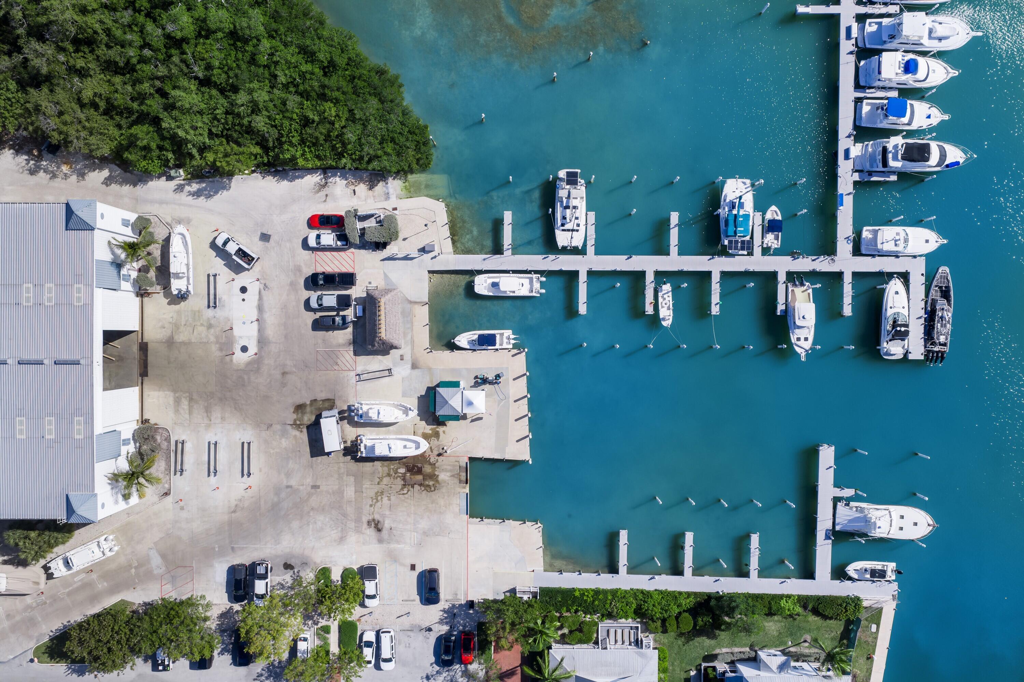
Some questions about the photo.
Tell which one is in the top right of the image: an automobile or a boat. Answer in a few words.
boat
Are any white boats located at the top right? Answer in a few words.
Yes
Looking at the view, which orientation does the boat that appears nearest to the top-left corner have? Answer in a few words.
vertically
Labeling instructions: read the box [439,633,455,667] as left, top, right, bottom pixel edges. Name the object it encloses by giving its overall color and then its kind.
black car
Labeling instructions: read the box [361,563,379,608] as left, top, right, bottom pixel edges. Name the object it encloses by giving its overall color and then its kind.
white vehicle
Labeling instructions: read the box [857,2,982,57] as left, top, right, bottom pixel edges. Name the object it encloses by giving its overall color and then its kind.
white boat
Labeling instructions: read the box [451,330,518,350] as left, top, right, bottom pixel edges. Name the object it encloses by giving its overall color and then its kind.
white boat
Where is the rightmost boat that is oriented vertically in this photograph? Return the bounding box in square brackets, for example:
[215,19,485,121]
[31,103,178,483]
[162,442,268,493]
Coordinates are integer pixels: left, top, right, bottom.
[924,266,953,363]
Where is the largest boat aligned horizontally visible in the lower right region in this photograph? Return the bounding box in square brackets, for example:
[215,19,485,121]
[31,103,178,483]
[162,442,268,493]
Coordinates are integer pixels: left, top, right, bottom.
[832,499,939,543]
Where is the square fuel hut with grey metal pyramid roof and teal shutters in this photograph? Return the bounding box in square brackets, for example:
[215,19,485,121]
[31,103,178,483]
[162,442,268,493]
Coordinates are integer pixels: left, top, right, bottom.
[430,381,463,421]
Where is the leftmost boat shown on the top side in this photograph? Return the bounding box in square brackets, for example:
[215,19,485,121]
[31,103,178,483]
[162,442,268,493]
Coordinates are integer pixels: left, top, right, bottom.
[170,222,195,299]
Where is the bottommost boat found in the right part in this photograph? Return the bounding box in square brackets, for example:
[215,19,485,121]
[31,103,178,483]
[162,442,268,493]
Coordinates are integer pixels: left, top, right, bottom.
[843,560,903,581]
